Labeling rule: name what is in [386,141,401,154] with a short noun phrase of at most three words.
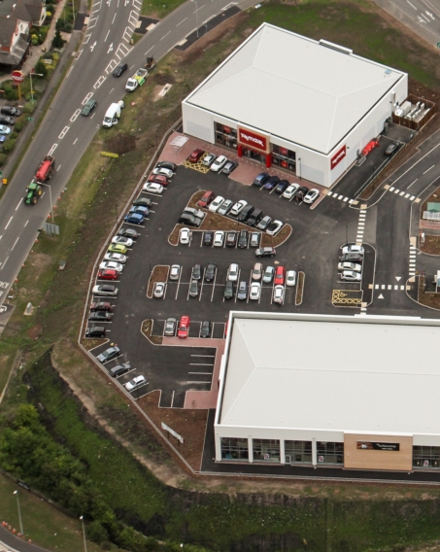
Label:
vehicle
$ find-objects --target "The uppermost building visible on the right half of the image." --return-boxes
[183,21,407,187]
